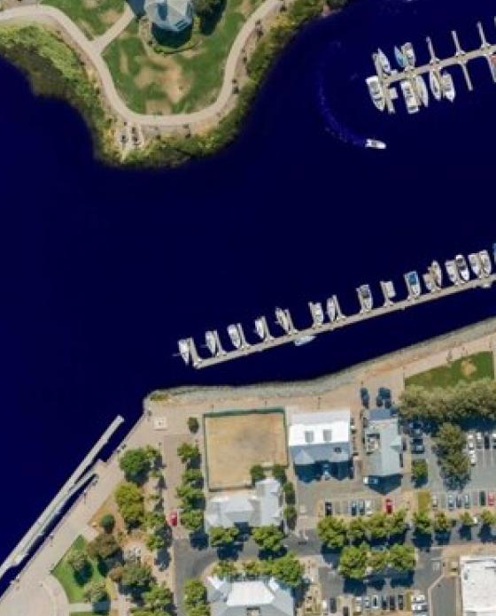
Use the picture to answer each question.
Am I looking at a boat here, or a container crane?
boat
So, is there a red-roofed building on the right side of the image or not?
No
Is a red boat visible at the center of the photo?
No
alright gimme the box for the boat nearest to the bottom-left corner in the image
[170,337,189,364]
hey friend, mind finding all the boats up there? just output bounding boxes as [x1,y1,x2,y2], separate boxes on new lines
[366,78,384,109]
[224,323,240,348]
[376,47,392,76]
[199,330,217,357]
[394,46,408,68]
[364,139,386,148]
[399,80,415,112]
[415,76,428,106]
[358,282,371,311]
[443,258,457,282]
[170,337,189,364]
[422,272,433,289]
[274,306,288,332]
[384,280,394,296]
[294,335,315,344]
[390,88,398,99]
[454,253,469,281]
[433,260,442,287]
[439,69,454,102]
[430,69,440,101]
[311,300,324,328]
[405,43,415,68]
[466,252,479,277]
[325,296,335,320]
[406,269,421,297]
[252,318,265,339]
[479,250,491,277]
